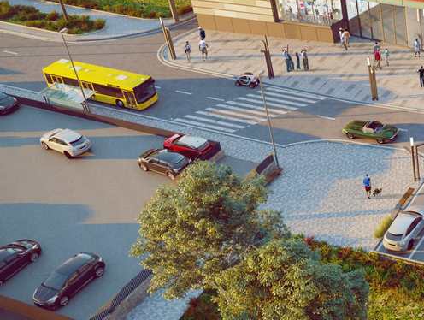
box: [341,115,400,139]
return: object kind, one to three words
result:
car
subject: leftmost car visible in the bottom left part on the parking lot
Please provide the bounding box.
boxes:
[0,238,43,272]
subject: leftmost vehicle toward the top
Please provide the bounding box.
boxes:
[0,84,20,112]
